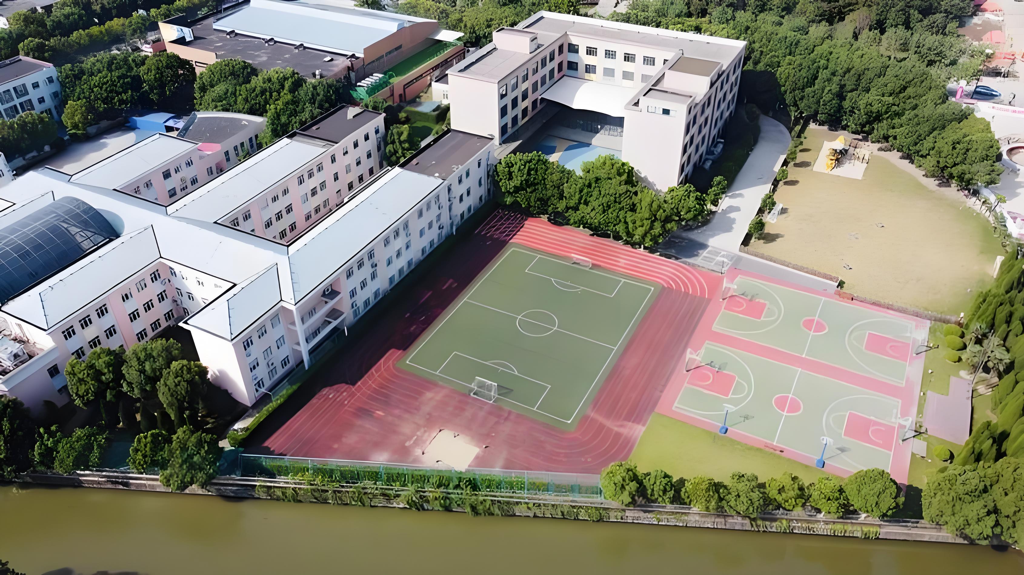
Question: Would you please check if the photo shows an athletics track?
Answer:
Yes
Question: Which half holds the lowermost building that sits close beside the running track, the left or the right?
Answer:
left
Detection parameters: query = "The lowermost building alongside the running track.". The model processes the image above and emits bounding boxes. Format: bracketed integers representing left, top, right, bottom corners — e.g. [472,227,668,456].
[0,101,495,423]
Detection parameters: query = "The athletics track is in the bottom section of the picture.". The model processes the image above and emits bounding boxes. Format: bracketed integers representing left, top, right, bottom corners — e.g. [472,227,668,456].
[233,207,728,490]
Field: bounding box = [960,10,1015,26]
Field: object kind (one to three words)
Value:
building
